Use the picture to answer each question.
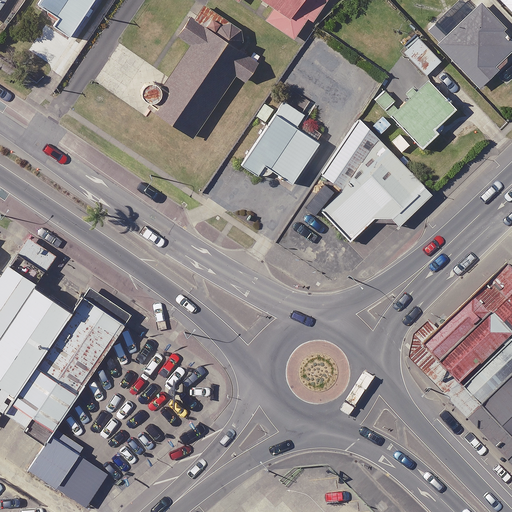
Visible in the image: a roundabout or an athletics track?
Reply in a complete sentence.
This aerial view contains a roundabout.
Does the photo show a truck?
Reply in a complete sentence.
Yes, a truck is visible in the scene.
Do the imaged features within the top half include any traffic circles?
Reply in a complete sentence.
No, looking within the top half, there is no traffic circle.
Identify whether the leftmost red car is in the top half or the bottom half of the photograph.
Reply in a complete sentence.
You can find the leftmost red car in the top half.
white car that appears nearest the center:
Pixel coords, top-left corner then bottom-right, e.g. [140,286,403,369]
[176,293,200,314]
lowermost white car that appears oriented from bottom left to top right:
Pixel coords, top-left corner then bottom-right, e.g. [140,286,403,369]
[186,458,208,480]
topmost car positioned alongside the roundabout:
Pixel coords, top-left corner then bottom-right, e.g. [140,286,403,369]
[289,310,316,328]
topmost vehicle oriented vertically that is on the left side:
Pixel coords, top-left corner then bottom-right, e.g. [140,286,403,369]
[154,303,167,330]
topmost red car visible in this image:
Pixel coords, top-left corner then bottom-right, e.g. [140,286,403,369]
[42,144,70,164]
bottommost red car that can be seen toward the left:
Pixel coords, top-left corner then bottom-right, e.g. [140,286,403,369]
[169,445,193,461]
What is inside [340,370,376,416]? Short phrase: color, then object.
white truck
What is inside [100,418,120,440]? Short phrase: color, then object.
white car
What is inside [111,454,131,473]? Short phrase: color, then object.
blue car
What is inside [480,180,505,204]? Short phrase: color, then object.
white vehicle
